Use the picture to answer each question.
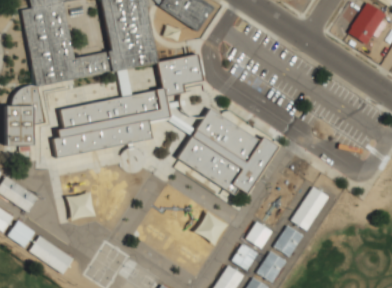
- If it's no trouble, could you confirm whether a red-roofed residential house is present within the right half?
Yes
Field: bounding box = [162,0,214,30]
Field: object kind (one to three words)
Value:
building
